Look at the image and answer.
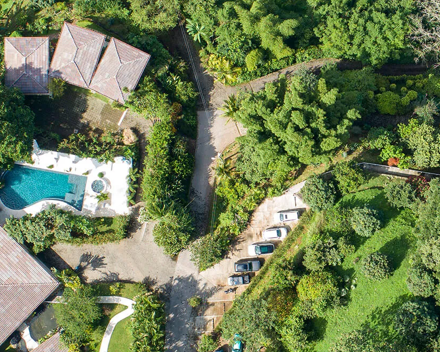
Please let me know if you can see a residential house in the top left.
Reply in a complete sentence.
Yes, there is a residential house in the top left.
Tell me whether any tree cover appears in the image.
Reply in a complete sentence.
Yes, tree cover can be seen from above here.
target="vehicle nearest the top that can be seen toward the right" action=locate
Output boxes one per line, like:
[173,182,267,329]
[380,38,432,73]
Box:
[273,210,299,222]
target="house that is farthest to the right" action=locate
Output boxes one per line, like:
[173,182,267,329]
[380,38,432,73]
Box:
[90,38,149,104]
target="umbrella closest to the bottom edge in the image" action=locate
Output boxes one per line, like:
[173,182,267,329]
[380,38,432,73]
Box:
[83,198,97,213]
